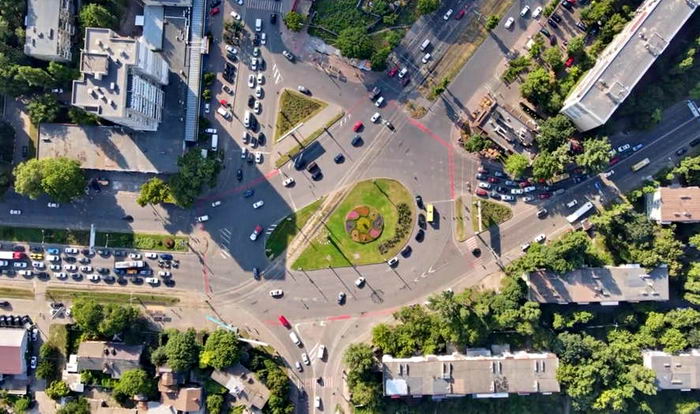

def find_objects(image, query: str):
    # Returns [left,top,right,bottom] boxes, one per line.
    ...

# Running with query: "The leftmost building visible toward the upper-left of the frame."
[23,0,81,67]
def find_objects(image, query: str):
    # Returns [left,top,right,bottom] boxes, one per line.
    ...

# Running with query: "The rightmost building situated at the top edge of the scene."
[558,0,700,131]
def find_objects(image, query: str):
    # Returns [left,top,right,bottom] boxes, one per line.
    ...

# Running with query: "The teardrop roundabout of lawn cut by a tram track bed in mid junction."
[266,180,414,271]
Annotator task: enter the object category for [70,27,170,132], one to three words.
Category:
building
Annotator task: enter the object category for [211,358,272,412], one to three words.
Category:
house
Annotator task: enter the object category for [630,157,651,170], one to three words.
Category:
vehicle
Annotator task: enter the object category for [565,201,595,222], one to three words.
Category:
bus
